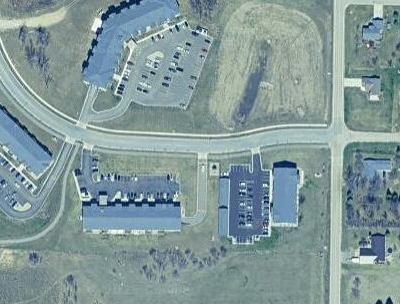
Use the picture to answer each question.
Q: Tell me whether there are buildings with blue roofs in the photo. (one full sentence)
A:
Yes, a building with a blue roof can be made out from above.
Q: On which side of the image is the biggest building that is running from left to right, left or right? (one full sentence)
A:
The biggest building that is running from left to right sits on the left side.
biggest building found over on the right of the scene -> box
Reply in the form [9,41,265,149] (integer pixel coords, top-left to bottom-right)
[270,168,299,228]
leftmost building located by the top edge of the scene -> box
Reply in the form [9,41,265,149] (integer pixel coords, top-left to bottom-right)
[82,0,180,89]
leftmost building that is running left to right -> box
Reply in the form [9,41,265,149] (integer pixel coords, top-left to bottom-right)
[83,195,181,236]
